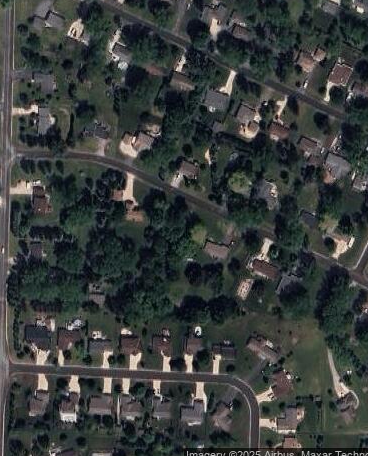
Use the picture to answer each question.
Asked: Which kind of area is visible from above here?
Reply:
residential area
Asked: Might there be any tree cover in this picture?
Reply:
Yes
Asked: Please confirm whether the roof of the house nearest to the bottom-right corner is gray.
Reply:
Yes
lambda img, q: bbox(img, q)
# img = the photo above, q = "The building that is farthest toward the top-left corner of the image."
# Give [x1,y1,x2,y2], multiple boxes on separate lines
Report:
[33,0,64,29]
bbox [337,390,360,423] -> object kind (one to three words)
house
